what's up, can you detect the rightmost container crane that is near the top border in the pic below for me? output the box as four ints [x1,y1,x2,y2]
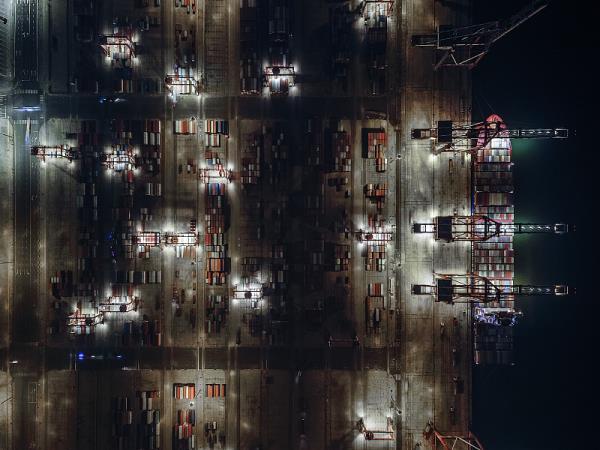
[411,0,554,76]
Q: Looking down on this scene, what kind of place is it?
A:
port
